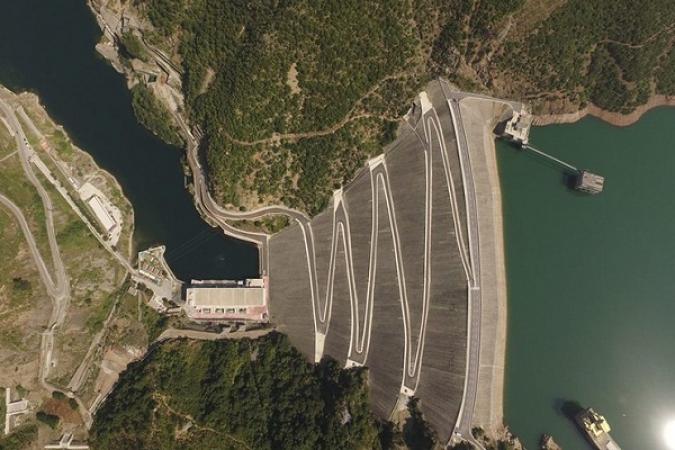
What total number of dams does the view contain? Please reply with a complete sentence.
The picture shows 1 dam.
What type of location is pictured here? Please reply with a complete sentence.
The area seen from above is a port.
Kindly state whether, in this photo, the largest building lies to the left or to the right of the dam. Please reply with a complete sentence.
The dam has the largest building on its left side.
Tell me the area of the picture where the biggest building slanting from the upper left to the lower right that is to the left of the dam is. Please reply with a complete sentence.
The biggest building slanting from the upper left to the lower right that is to the left of the dam is in the left part of the image.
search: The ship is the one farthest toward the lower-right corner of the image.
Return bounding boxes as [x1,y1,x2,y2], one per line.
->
[583,405,626,450]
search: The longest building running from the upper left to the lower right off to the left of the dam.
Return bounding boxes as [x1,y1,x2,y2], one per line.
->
[88,196,119,232]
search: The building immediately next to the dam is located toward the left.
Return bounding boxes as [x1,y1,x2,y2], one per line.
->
[187,277,270,322]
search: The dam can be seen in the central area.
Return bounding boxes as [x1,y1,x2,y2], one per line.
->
[268,78,514,445]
